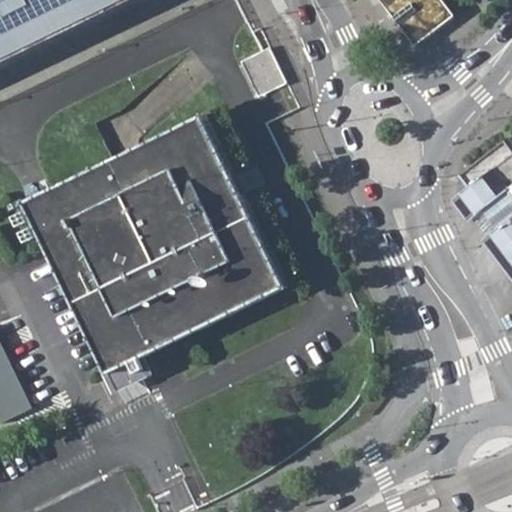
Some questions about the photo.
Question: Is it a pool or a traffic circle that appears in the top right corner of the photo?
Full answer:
There is a traffic circle in the top right corner of the photo.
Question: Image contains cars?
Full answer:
Yes, this view includes a car.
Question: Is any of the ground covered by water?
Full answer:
No, the scene doesn't show any water.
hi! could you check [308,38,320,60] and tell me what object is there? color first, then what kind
gray vehicle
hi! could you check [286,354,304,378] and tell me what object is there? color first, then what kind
white car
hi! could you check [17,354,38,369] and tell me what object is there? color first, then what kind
white car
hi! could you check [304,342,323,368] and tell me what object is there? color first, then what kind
white vehicle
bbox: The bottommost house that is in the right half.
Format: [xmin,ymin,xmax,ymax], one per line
[484,220,512,288]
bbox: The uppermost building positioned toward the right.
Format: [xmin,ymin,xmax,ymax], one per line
[378,0,453,42]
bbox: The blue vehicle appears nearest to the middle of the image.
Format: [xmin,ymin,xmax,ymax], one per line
[274,198,288,217]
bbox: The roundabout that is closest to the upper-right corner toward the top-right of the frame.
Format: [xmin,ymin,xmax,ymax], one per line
[336,79,422,189]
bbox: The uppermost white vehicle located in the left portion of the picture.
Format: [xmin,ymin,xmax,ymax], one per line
[30,264,54,280]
